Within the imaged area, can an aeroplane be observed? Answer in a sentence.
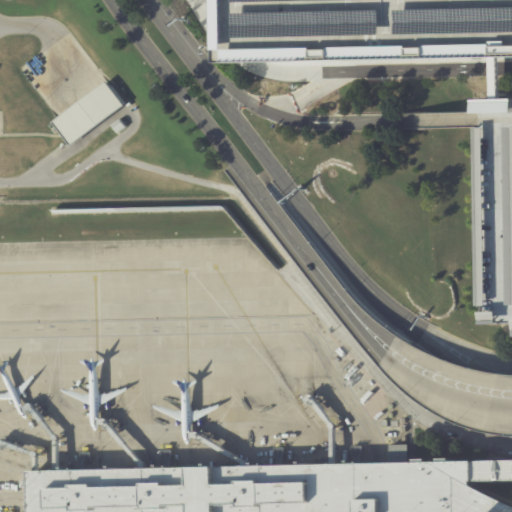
Yes, an aeroplane appears in the view.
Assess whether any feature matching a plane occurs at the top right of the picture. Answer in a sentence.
No, the scene shows no plane at the top right of the picture.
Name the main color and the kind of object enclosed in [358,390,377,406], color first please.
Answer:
white vehicle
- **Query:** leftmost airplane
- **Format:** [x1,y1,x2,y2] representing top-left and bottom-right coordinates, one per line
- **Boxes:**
[0,356,38,419]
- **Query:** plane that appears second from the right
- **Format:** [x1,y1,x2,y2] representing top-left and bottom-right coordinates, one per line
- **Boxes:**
[58,358,126,431]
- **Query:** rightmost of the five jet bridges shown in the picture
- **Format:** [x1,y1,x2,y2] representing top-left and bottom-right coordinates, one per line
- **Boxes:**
[302,392,338,464]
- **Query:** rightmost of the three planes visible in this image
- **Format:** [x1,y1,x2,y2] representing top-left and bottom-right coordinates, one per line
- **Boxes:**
[150,378,218,444]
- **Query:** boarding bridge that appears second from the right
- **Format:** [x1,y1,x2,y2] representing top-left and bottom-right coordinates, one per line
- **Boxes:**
[188,430,247,466]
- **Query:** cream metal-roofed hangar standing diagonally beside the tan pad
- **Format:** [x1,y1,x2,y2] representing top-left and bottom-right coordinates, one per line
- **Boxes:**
[51,79,126,144]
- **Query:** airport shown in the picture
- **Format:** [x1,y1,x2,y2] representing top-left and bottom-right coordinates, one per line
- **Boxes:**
[0,238,404,512]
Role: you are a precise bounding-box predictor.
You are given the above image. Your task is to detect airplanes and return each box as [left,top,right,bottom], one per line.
[58,358,126,431]
[0,356,38,419]
[150,378,218,444]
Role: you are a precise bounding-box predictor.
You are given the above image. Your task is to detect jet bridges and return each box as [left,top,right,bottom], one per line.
[94,416,148,468]
[18,400,64,470]
[188,430,247,466]
[302,392,338,464]
[0,434,43,471]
